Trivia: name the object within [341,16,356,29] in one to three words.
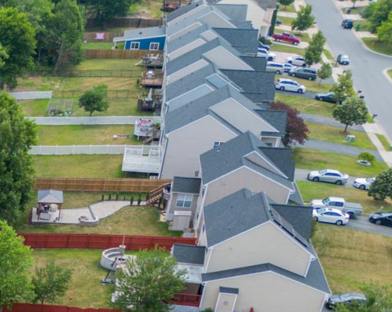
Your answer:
vehicle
